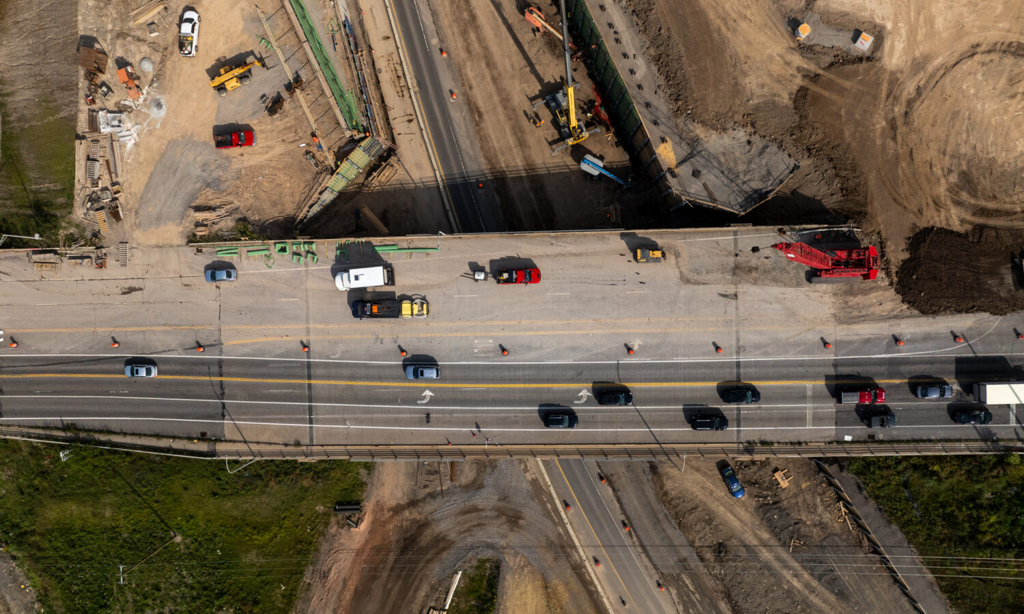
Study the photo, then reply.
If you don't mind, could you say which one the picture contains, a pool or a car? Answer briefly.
car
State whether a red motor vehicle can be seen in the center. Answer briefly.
Yes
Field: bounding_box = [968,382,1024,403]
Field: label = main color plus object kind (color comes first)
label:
white trailer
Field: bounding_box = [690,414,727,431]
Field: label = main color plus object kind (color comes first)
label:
black car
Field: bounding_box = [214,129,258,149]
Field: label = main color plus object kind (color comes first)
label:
red vehicle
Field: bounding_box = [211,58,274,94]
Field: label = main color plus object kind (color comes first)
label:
yellow work vehicle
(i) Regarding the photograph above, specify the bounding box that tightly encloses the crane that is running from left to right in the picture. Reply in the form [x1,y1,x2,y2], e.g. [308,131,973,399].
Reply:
[726,241,883,283]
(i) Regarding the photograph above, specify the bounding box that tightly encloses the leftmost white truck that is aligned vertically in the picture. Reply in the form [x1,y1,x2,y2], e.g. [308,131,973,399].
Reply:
[180,10,201,58]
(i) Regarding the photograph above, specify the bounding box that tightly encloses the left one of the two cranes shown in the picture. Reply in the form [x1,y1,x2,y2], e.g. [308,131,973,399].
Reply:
[529,0,603,155]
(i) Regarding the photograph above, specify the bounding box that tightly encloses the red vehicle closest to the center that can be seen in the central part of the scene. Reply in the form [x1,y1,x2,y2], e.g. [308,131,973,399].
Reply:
[497,268,542,286]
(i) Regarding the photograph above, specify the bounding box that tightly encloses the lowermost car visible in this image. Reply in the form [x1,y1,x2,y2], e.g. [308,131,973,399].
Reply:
[720,464,742,498]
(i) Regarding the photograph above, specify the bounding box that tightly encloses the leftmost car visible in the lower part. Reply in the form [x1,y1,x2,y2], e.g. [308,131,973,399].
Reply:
[126,363,160,379]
